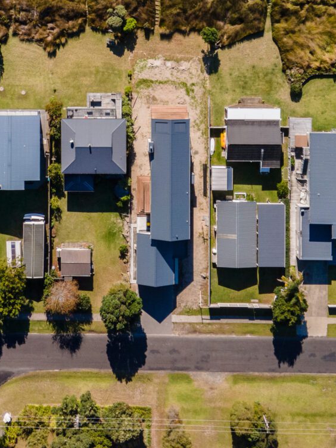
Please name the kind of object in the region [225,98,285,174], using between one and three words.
house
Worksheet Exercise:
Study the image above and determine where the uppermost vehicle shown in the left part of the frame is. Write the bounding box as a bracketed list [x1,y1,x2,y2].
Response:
[27,207,41,220]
